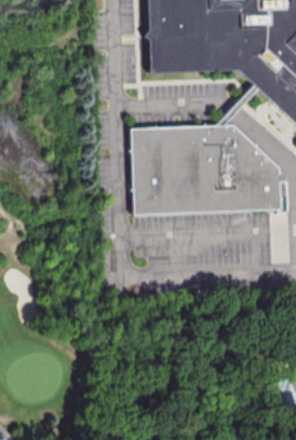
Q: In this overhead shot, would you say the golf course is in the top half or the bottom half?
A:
bottom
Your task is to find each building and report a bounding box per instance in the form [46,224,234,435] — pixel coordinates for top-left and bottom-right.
[280,380,296,408]
[148,0,296,122]
[132,124,290,215]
